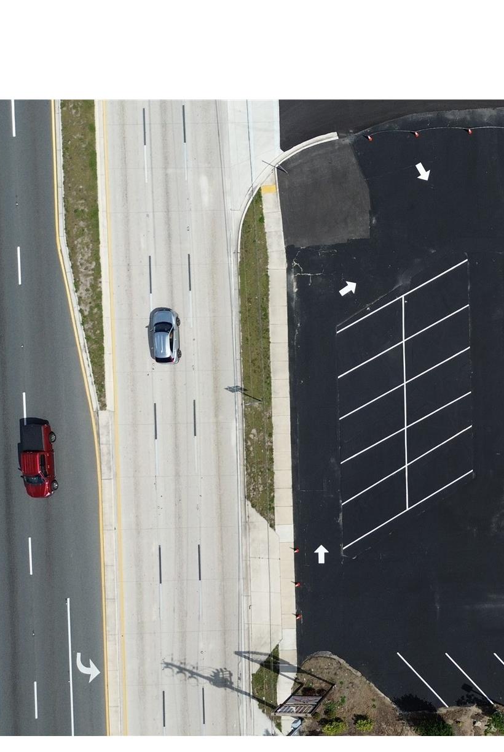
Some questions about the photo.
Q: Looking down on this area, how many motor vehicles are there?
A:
two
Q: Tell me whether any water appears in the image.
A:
No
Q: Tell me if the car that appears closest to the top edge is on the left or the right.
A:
left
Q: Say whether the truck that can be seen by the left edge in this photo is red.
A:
Yes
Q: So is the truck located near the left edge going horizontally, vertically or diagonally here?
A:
vertically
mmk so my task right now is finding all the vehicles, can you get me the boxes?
[21,424,60,498]
[147,308,182,365]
